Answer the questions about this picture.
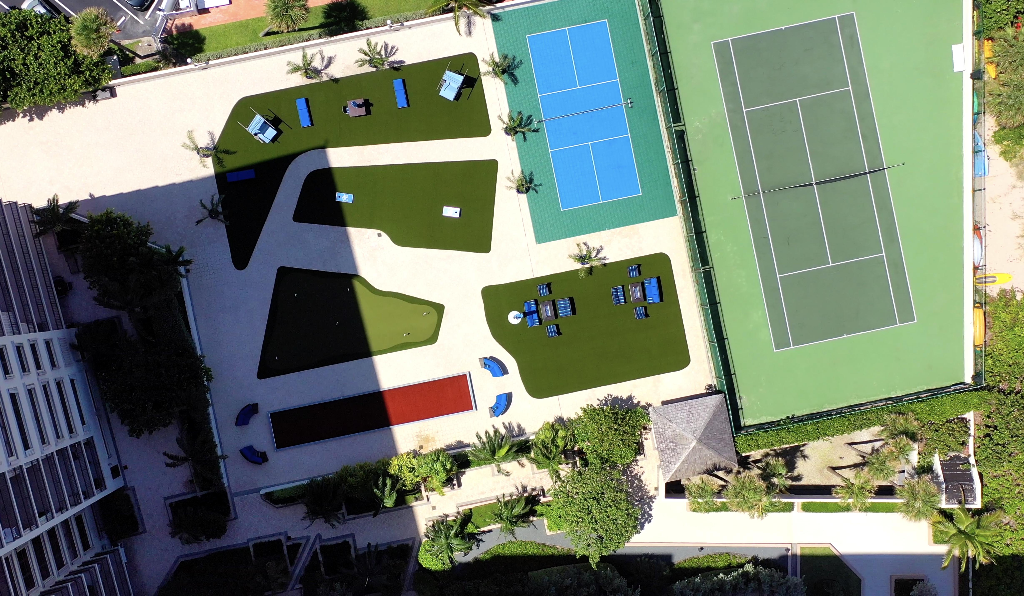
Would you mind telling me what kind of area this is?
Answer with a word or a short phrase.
sports ground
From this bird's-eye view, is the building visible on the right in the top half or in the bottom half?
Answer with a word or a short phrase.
bottom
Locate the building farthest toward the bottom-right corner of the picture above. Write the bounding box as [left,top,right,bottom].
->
[649,393,738,483]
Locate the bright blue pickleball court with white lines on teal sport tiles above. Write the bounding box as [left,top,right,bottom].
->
[491,0,678,244]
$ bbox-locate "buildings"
[649,393,738,483]
[0,198,140,596]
